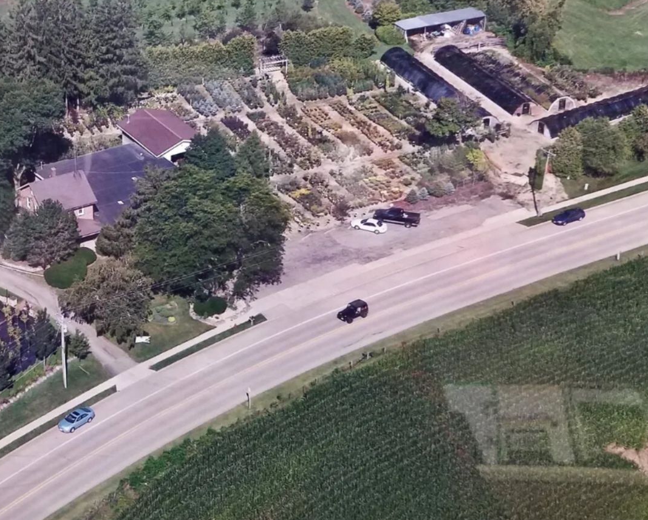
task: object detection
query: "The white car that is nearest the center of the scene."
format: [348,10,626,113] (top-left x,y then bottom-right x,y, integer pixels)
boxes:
[351,217,388,234]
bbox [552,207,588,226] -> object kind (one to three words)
car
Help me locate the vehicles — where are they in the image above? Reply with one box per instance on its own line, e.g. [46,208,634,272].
[372,206,420,229]
[336,297,370,324]
[351,217,388,234]
[552,207,588,226]
[56,404,98,434]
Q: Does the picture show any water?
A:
No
